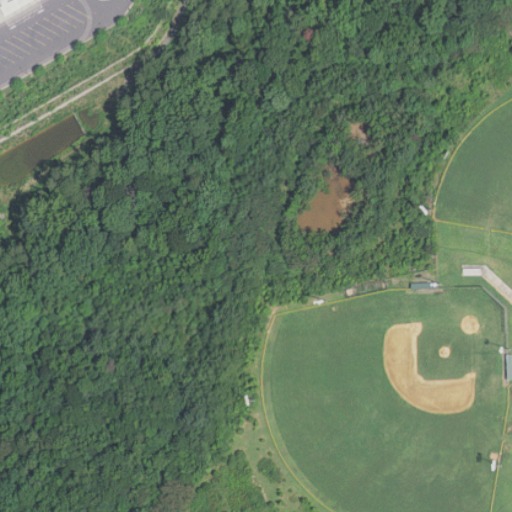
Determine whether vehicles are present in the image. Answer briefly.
No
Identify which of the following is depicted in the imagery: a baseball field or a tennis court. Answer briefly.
baseball field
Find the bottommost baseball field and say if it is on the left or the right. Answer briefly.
right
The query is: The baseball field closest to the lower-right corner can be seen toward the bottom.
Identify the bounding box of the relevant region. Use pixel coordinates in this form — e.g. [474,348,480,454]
[262,288,507,512]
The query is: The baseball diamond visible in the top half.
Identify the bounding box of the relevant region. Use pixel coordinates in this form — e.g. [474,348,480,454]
[435,100,512,232]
